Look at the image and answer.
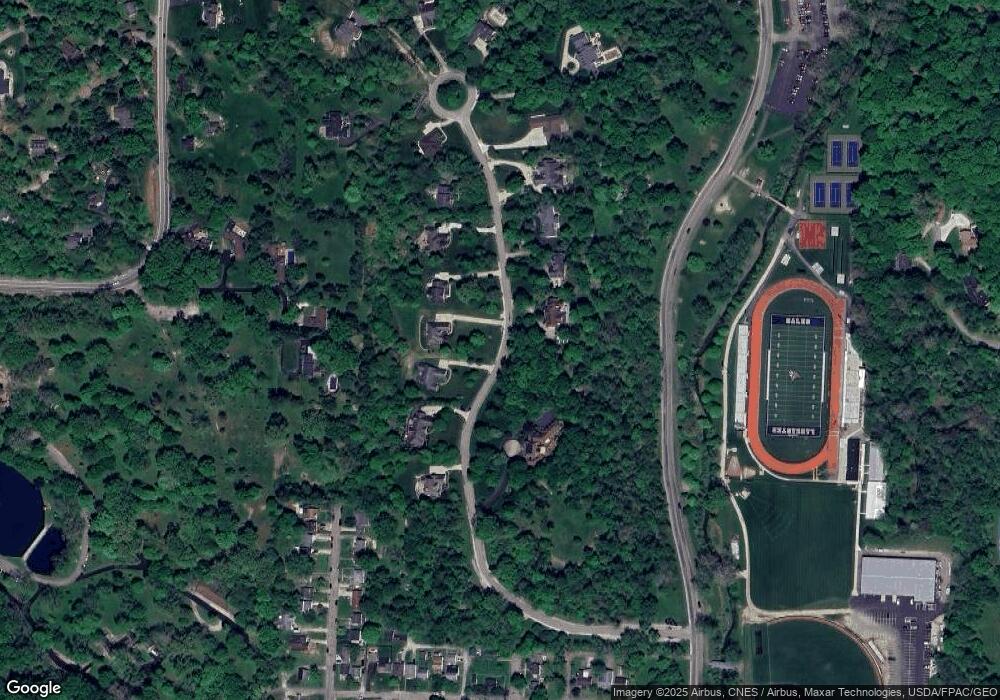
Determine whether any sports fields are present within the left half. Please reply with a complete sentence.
No, no sports field is visible within the left half.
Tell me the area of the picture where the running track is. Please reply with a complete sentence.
The running track is located in the right region of the scene.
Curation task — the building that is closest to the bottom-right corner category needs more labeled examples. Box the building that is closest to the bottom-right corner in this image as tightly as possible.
[861,556,937,604]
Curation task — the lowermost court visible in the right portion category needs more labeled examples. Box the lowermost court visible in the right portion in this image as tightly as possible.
[798,219,826,249]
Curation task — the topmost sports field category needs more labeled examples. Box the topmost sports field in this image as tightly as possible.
[758,289,833,460]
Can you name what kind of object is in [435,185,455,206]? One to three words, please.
house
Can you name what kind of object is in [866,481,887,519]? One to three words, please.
building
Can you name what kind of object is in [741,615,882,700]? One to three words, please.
baseball field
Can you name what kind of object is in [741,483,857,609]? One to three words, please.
sports field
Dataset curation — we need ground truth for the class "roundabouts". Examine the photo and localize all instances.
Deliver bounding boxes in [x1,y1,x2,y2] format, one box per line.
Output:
[431,72,476,118]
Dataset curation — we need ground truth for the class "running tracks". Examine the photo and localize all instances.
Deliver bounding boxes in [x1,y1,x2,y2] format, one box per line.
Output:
[747,278,847,474]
